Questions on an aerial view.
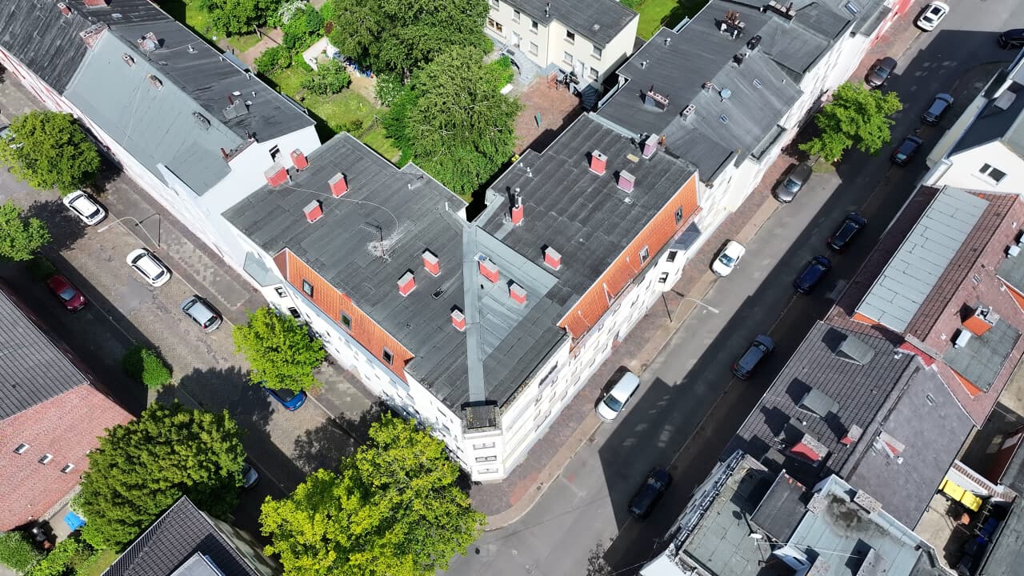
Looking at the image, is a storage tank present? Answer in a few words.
No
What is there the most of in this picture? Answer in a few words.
buildings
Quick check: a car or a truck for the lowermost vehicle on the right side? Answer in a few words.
car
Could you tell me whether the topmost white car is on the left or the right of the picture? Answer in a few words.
right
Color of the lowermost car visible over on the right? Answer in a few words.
black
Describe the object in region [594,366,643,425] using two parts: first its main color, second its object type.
white car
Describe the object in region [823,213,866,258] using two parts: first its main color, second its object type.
black car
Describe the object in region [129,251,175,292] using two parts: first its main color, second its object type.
white car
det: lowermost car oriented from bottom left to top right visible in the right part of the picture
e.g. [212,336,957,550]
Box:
[620,463,675,528]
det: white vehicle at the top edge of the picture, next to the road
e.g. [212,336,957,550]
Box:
[914,0,949,36]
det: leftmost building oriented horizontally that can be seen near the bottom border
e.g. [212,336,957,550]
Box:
[87,494,268,576]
